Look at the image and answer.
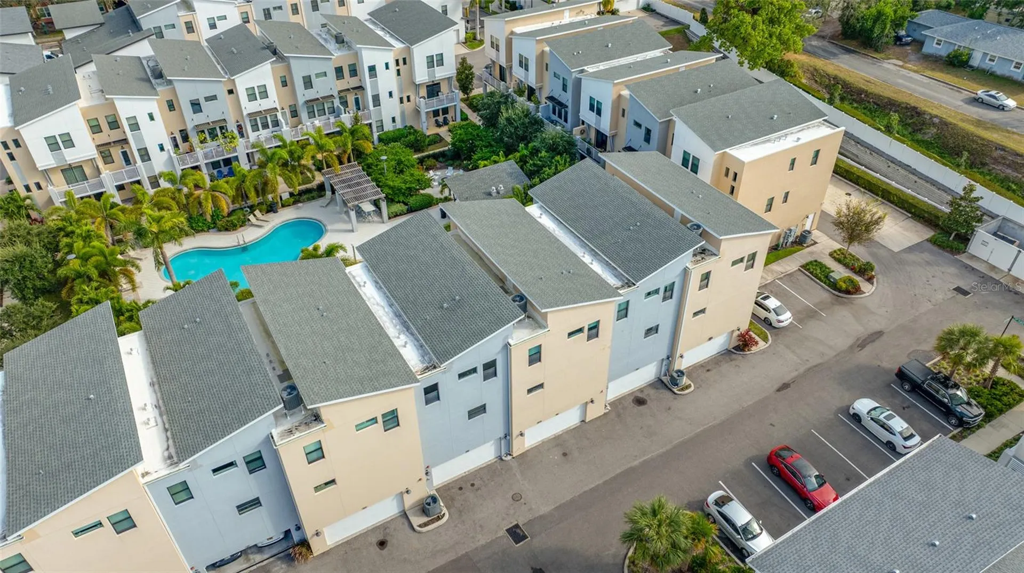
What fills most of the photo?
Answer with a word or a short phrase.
buildings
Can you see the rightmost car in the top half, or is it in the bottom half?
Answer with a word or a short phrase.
top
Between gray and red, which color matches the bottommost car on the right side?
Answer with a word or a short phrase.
gray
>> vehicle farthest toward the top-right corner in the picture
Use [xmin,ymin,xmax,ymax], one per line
[975,88,1019,109]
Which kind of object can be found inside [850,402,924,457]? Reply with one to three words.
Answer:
car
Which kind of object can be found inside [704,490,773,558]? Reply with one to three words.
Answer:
car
